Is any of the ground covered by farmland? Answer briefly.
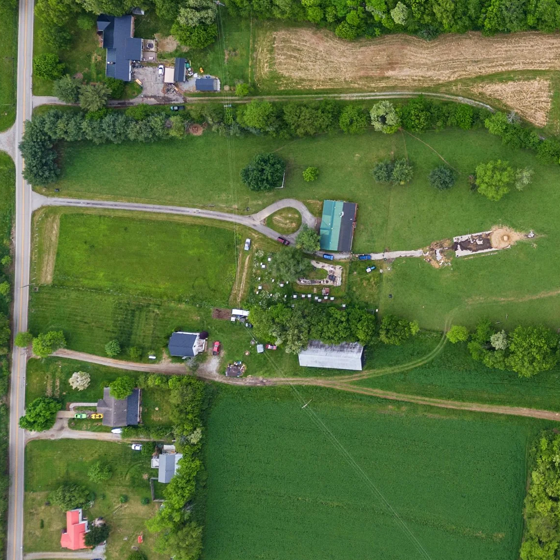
Yes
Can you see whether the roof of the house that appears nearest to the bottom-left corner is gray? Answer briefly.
No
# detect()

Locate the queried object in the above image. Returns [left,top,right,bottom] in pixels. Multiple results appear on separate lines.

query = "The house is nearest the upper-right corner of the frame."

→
[319,200,359,251]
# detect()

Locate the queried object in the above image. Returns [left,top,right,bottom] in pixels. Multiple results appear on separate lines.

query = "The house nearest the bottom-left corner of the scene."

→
[57,509,95,553]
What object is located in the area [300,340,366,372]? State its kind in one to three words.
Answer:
barn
